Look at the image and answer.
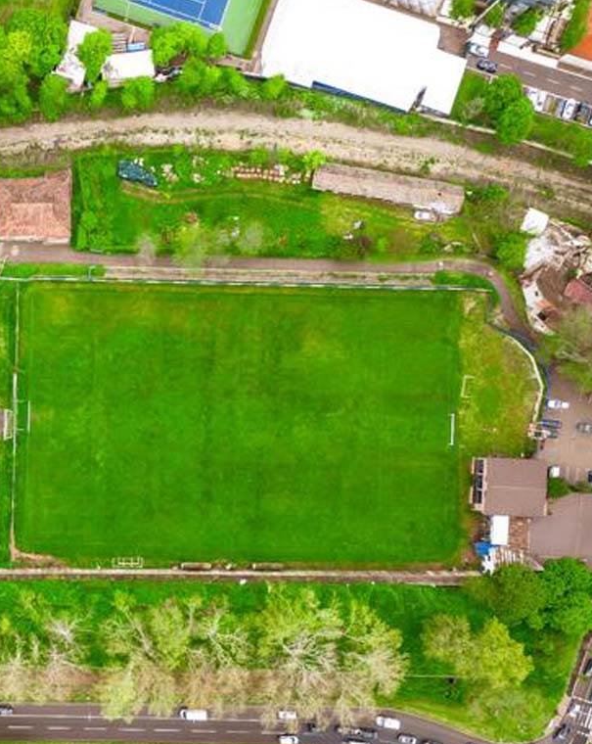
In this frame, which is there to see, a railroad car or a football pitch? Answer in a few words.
football pitch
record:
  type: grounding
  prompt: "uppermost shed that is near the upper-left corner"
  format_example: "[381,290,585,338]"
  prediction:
[68,19,96,48]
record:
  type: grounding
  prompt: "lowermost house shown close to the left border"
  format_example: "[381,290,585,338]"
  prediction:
[0,173,72,246]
